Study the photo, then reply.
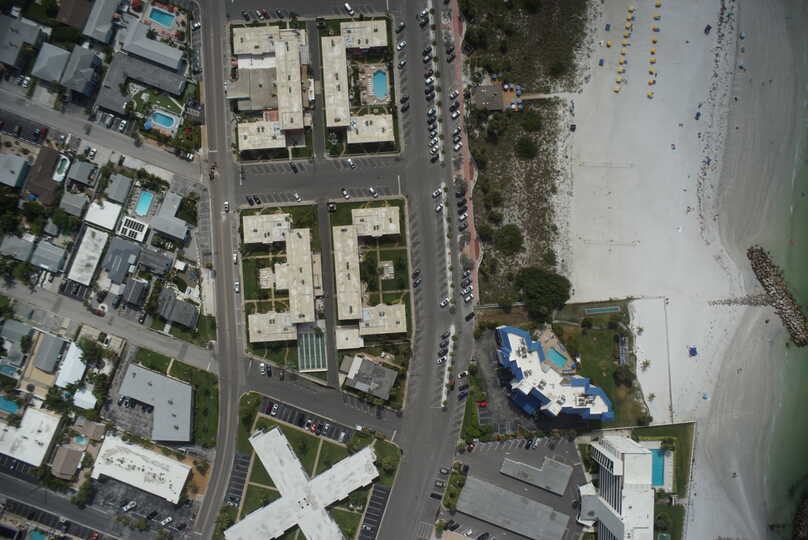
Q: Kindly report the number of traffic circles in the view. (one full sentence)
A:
The count of traffic circles is 0.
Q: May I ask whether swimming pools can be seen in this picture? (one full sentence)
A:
Yes, a swimming pool is visible in the scene.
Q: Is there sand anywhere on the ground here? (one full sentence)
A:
Yes, there's sand in this view.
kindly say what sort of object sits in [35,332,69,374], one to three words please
house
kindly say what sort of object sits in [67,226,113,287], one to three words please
building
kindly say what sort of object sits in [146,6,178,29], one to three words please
swimming pool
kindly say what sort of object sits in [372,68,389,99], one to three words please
swimming pool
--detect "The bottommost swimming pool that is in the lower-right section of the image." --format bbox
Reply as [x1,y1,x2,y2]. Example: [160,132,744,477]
[647,448,665,486]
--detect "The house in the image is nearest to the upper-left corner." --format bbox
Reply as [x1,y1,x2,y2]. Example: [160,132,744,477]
[0,13,43,67]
